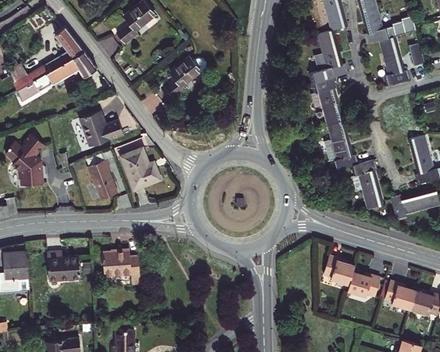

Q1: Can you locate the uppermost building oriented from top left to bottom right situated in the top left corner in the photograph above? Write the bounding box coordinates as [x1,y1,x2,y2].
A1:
[55,28,82,56]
